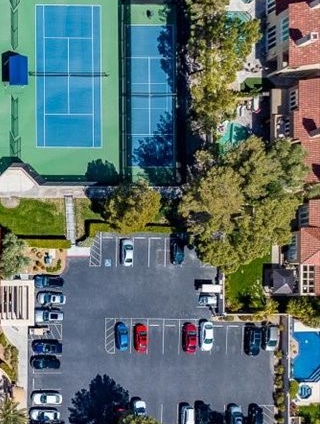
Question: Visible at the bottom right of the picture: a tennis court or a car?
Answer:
car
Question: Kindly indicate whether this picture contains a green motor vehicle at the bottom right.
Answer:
No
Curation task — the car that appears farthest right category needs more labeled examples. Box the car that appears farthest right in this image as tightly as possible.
[261,324,278,352]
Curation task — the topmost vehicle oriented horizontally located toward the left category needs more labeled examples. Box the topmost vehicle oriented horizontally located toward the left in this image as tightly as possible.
[33,275,63,289]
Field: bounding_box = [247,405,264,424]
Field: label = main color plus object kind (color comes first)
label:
black car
